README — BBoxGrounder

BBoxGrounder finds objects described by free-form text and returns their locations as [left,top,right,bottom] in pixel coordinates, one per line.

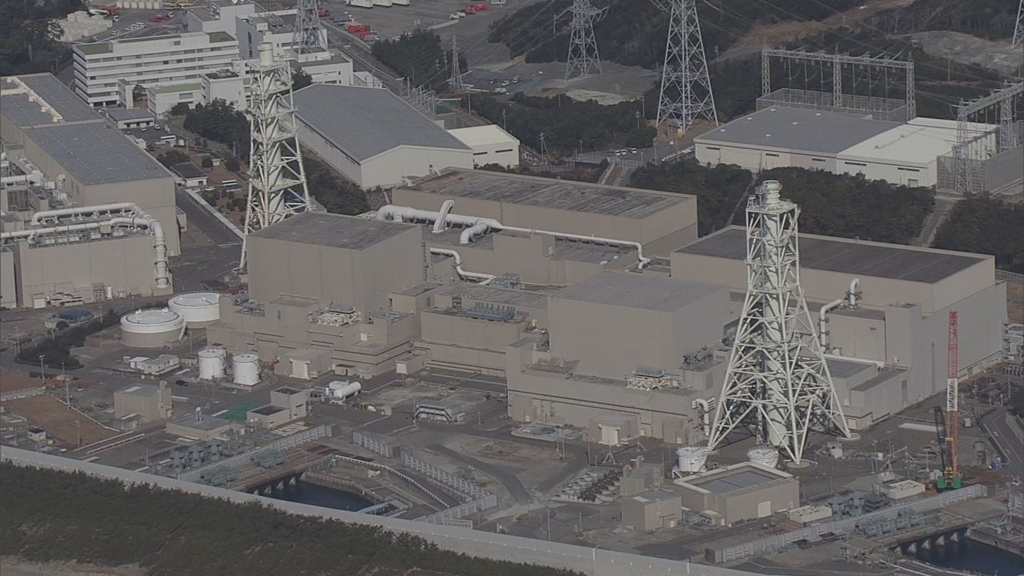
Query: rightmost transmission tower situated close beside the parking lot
[651,0,722,134]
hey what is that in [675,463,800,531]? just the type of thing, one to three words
building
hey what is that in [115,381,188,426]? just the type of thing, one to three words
building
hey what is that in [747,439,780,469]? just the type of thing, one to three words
water tank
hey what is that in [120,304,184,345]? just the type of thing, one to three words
storage tank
